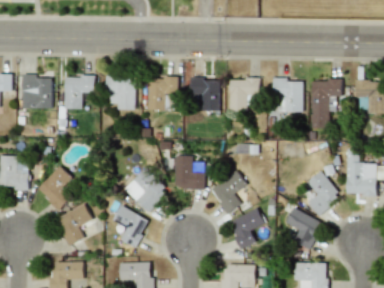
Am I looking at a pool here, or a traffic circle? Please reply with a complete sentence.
There is a pool in the scene.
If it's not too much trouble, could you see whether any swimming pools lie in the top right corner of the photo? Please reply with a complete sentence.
No, I can find no swimming pool in the top right corner of the photo.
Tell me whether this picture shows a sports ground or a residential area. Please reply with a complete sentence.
The area seen from above is a residential area.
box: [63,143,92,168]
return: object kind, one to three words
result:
swimming pool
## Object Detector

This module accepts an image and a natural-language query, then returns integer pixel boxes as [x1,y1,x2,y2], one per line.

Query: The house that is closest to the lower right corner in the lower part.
[296,263,330,288]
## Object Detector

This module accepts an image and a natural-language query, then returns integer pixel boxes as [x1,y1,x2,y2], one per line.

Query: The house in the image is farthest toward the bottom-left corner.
[50,262,85,288]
